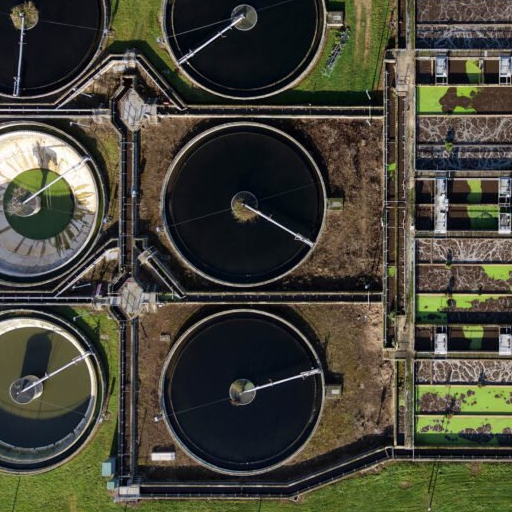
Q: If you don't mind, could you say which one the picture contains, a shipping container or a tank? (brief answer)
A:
tank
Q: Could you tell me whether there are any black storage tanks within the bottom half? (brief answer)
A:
Yes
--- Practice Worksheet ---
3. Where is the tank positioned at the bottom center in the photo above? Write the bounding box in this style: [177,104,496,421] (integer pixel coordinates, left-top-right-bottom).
[160,309,325,474]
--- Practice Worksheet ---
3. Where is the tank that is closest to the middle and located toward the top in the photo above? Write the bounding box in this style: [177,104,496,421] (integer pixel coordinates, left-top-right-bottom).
[163,122,327,286]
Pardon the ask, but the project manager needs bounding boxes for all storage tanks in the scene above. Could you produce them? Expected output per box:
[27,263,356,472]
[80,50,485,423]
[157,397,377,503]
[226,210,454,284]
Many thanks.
[163,0,327,98]
[0,0,109,98]
[0,309,107,475]
[0,121,109,285]
[160,309,325,474]
[163,122,327,286]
